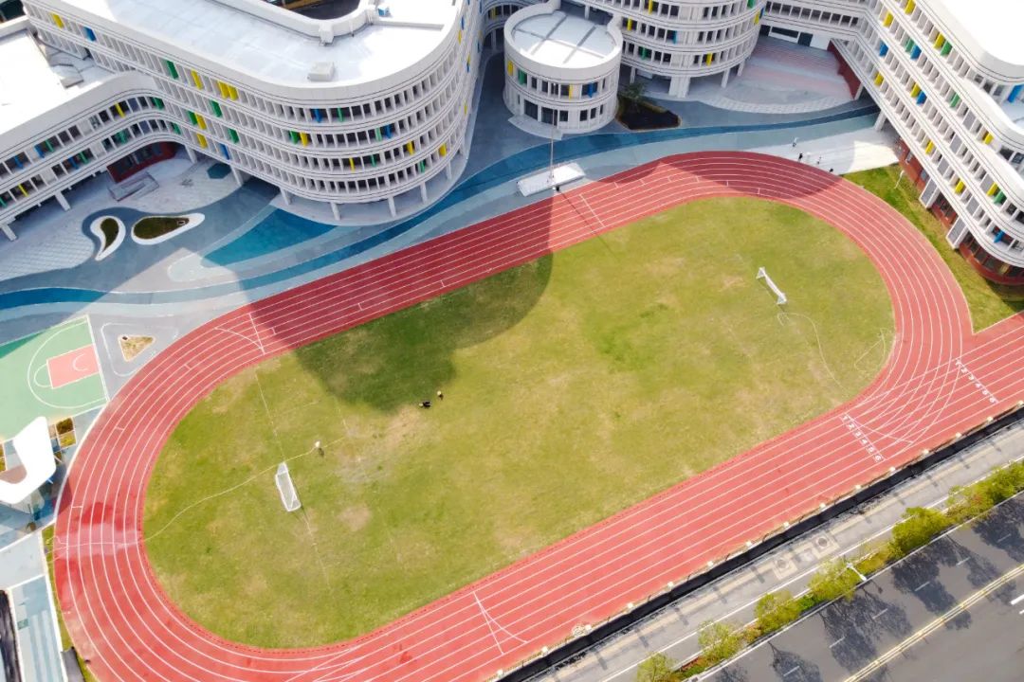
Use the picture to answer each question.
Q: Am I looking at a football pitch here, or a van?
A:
football pitch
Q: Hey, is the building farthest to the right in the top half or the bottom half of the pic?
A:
top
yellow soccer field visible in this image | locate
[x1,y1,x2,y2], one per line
[144,196,897,651]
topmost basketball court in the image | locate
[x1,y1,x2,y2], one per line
[0,314,107,442]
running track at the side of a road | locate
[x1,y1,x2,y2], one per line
[54,151,1024,682]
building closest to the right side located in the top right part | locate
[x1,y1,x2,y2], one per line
[834,0,1024,288]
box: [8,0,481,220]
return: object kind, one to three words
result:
building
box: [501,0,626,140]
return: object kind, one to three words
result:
building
